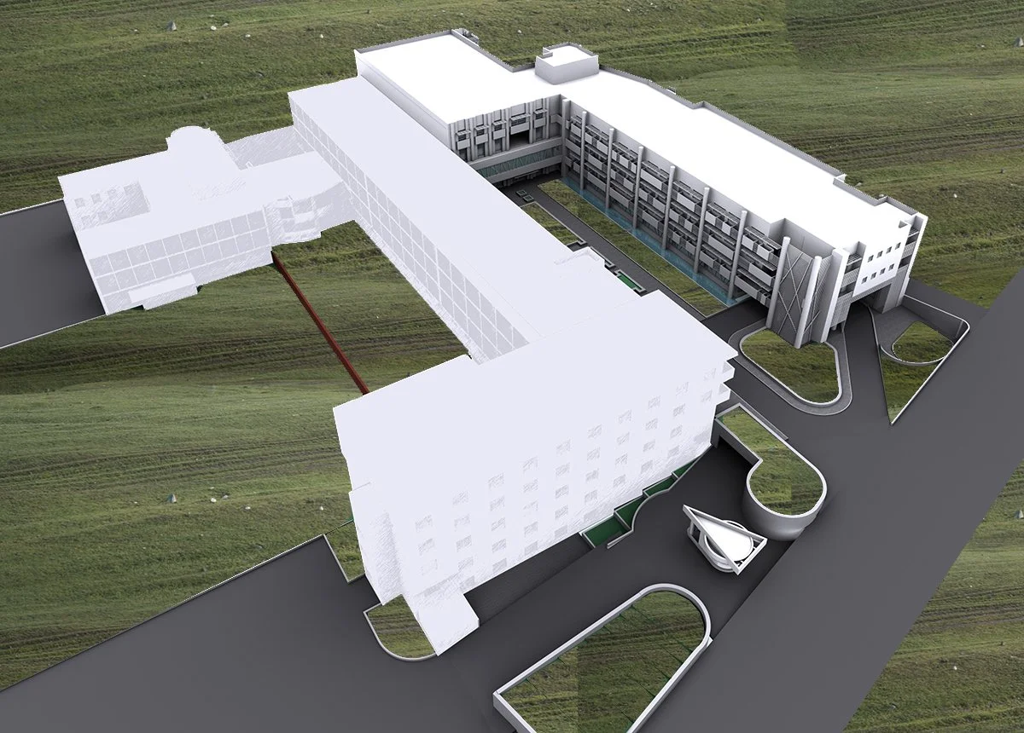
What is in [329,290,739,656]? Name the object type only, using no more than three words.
building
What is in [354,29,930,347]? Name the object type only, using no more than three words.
building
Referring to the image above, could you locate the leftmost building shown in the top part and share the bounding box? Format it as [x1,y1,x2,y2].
[57,128,276,314]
